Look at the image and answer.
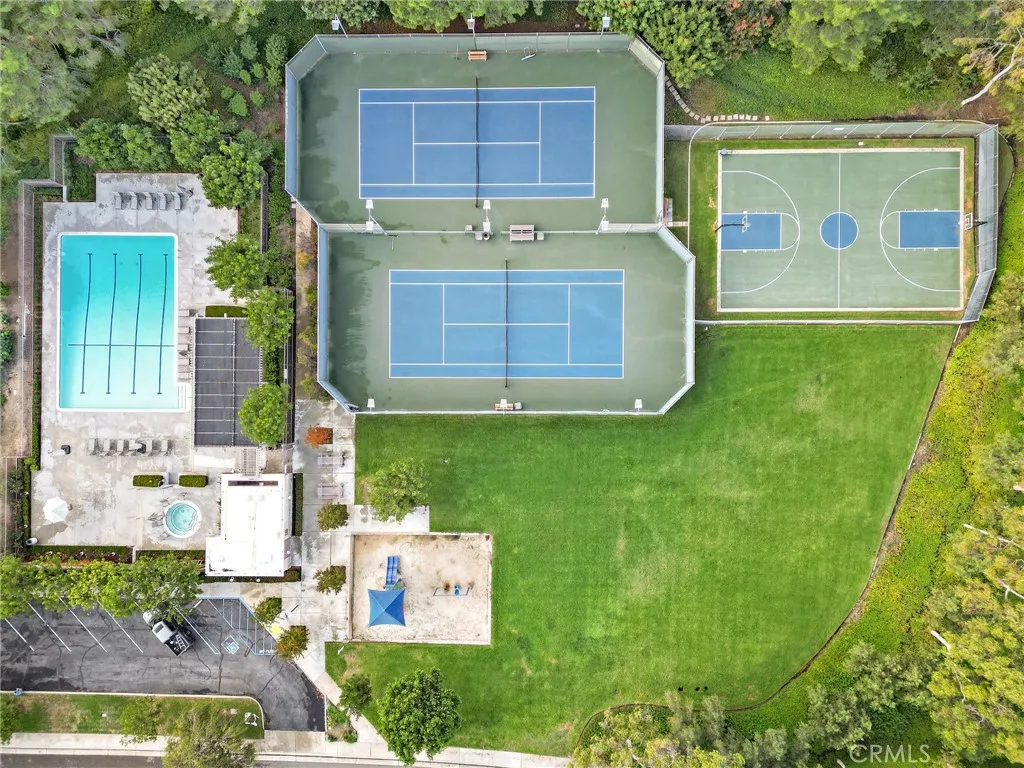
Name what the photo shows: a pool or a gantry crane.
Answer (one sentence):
This aerial view contains a pool.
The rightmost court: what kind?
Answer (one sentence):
The rightmost court is a basketball court.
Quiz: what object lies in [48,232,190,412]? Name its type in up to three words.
swimming pool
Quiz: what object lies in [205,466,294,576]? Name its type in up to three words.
building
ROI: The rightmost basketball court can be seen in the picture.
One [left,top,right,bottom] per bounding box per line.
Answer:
[717,148,965,312]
